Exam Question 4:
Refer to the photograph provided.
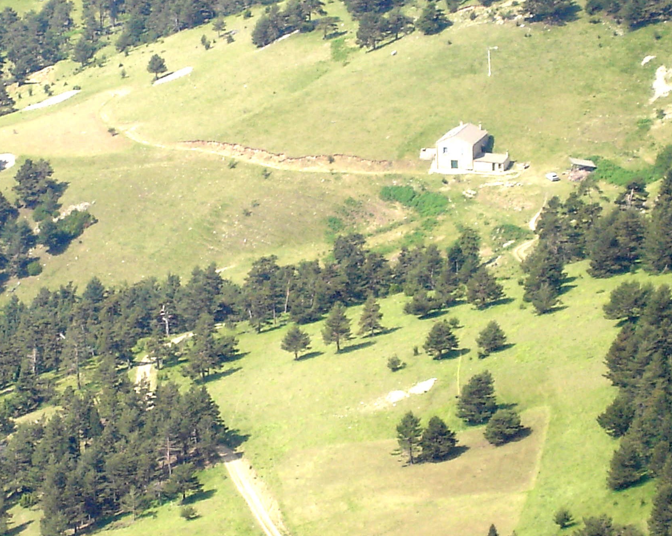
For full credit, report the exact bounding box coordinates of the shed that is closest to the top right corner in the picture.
[572,156,604,176]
